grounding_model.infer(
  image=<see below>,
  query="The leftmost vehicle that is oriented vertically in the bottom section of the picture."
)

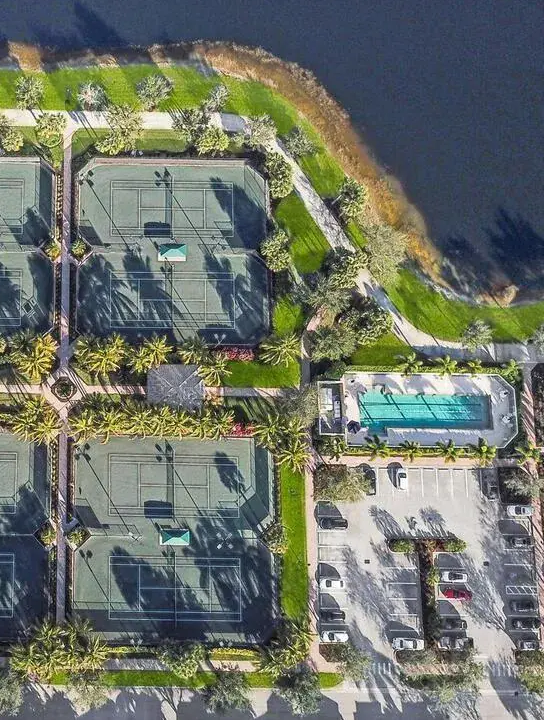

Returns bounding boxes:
[364,469,377,496]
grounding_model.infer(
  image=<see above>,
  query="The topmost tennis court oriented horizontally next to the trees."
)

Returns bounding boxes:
[78,159,268,250]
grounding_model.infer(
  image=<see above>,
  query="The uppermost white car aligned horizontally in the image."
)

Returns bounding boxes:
[505,505,533,517]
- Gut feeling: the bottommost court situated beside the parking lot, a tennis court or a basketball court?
tennis court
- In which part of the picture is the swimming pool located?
right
